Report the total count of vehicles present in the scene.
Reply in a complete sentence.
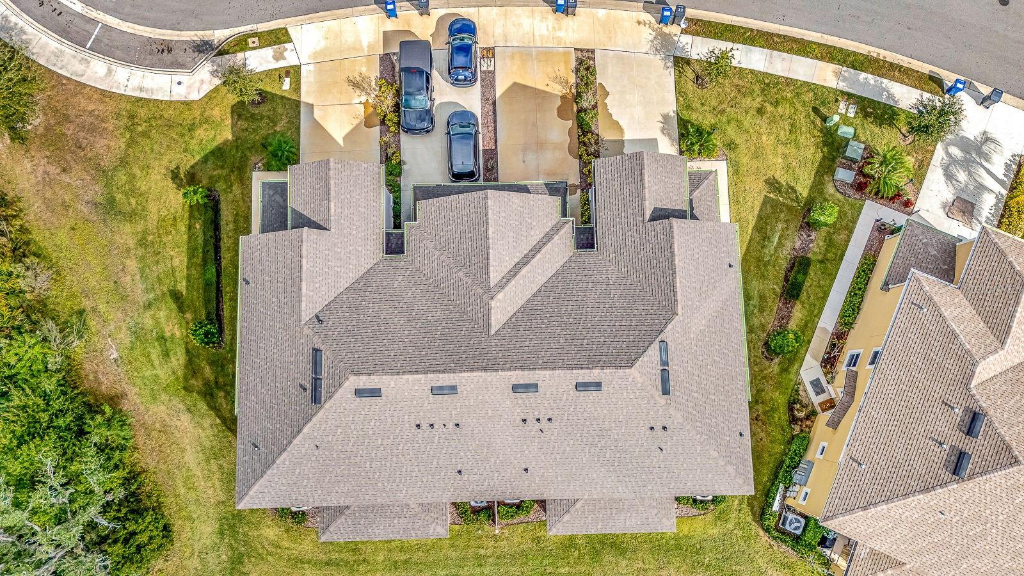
Altogether the scene contains 3 vehicles.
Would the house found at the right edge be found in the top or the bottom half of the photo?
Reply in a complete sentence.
It is in the bottom half that the house found at the right edge appears.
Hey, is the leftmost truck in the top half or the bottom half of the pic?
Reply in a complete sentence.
Seen from above, the leftmost truck lies in the top half of the view.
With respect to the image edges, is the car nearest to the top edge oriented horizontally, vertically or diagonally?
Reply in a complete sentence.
From this overhead view, the car nearest to the top edge appears to run vertically.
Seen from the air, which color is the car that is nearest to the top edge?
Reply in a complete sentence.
In this view, the car that is nearest to the top edge is blue.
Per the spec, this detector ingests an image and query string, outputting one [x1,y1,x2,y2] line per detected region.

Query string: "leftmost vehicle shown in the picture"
[396,40,434,136]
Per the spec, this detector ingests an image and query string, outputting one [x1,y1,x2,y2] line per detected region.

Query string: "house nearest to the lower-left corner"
[233,154,756,542]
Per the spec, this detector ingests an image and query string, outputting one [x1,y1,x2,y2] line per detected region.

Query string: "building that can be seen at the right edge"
[786,217,1024,576]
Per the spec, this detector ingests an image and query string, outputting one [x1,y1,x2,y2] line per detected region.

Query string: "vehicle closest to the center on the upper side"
[444,110,482,181]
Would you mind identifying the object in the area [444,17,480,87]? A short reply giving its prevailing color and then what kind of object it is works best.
blue car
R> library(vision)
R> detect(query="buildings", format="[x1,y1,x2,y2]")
[233,154,756,542]
[786,217,1024,576]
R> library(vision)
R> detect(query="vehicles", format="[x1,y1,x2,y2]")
[444,110,482,181]
[396,40,434,136]
[444,17,480,87]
